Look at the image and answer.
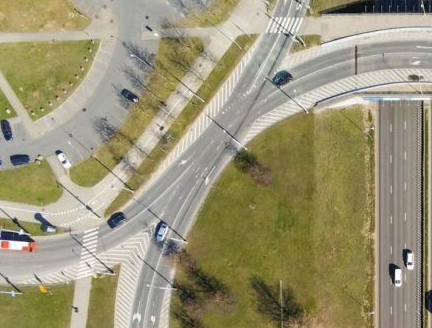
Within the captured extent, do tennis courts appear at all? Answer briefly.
No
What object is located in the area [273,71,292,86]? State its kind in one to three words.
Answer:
car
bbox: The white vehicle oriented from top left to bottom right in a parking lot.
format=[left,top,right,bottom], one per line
[56,152,72,169]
